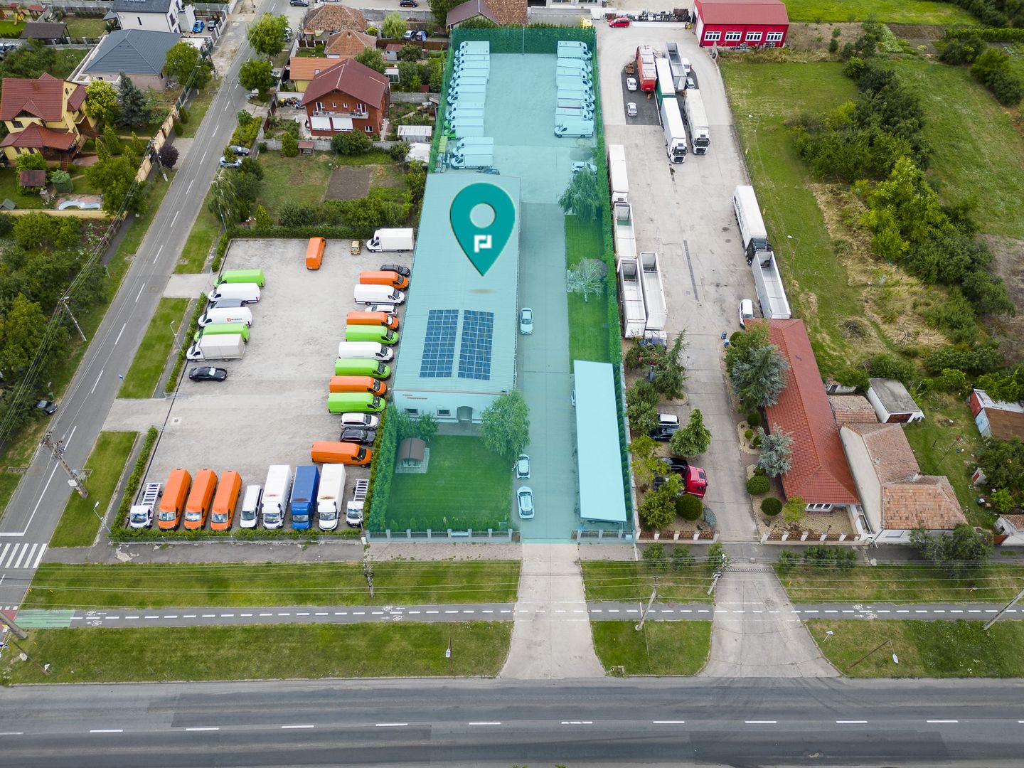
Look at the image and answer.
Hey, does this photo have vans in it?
Yes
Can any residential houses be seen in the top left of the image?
Yes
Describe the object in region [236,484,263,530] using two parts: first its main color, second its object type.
white vehicle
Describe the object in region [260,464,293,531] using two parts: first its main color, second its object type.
white truck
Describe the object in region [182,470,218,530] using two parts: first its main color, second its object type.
orange van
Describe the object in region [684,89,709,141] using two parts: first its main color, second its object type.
white trailer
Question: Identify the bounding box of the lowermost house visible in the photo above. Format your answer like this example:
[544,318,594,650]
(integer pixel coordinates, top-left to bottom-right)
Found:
[978,485,1024,542]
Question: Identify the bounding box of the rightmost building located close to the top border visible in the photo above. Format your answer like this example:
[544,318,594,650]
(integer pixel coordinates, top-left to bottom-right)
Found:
[692,0,788,48]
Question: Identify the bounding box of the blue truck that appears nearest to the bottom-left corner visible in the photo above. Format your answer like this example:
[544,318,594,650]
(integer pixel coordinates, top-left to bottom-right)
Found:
[289,465,320,531]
